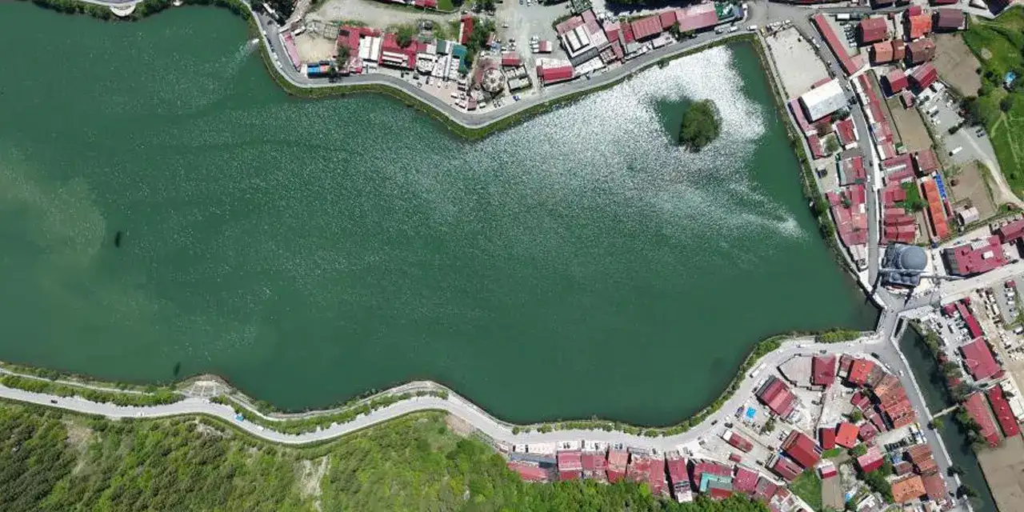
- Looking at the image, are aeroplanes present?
No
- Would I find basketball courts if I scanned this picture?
No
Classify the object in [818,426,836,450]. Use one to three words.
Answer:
house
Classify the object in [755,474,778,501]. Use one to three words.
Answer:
building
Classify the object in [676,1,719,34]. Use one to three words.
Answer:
building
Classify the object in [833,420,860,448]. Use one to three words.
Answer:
house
